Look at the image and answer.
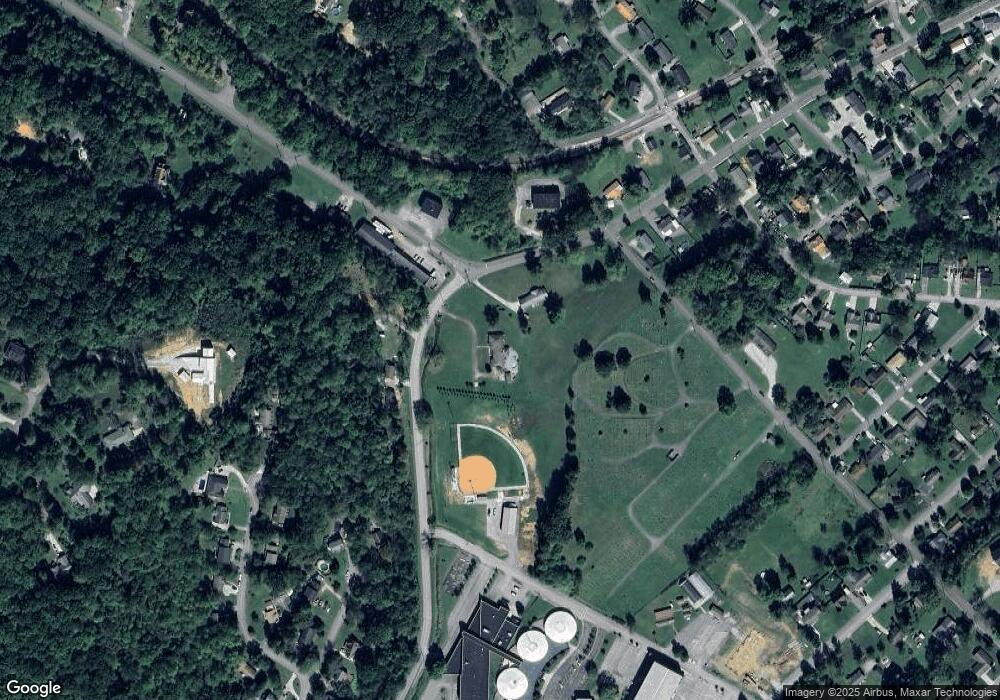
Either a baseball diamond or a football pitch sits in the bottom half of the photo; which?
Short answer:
baseball diamond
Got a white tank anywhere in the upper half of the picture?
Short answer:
No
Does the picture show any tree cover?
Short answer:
Yes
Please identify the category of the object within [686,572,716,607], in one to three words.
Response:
building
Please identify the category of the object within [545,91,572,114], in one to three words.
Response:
house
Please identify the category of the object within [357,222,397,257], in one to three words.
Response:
building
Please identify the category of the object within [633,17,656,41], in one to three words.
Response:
house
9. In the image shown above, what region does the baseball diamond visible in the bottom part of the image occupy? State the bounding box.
[458,424,528,492]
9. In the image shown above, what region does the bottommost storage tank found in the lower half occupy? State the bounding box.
[497,668,528,700]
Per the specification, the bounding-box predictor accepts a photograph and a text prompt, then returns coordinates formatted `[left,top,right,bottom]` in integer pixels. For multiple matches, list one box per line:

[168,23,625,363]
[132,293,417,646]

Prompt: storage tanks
[544,610,577,644]
[517,631,549,662]
[497,668,528,700]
